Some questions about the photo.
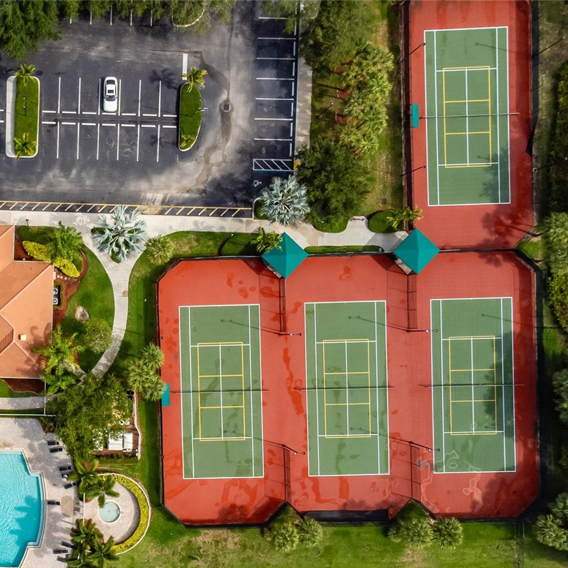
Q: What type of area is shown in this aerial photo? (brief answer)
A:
sports ground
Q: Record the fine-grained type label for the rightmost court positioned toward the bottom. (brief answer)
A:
tennis court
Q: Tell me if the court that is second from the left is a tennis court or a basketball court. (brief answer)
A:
tennis court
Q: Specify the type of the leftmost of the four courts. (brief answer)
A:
tennis court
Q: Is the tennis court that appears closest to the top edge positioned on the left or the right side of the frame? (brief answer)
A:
right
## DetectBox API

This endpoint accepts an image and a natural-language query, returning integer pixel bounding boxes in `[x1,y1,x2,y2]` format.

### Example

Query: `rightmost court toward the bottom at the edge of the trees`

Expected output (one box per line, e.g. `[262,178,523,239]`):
[409,250,540,521]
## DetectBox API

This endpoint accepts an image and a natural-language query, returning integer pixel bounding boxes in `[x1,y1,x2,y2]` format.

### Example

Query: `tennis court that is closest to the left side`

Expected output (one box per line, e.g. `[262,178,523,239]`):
[156,258,285,525]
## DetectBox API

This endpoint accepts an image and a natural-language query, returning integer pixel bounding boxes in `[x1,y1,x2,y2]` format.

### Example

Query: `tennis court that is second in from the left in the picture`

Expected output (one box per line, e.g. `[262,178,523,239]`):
[282,253,412,522]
